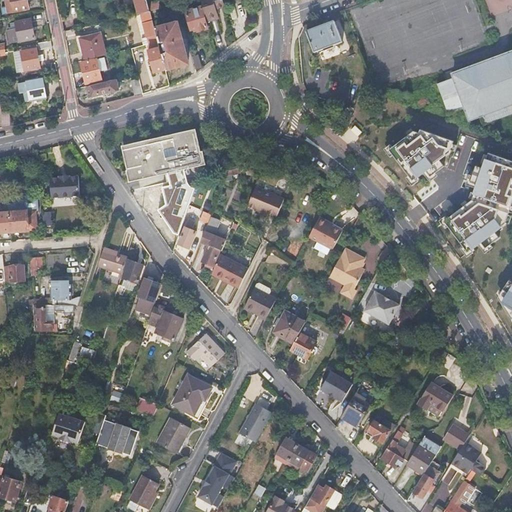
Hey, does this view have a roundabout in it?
Yes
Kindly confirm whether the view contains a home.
Yes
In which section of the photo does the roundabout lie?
top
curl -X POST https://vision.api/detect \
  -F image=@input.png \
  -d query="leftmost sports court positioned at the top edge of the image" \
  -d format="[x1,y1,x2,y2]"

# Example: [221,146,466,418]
[350,0,484,82]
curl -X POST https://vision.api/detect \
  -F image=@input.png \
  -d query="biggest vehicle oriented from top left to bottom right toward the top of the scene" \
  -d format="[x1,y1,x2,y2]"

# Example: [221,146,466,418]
[88,156,106,176]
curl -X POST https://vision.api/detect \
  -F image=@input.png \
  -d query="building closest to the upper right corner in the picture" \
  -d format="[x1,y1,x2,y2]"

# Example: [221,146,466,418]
[438,50,512,124]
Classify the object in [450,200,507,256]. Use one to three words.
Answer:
building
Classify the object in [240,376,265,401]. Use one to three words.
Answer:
building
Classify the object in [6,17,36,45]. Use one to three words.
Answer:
house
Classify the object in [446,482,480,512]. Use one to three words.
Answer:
house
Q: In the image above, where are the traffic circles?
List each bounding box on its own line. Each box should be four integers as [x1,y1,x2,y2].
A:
[213,72,286,144]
